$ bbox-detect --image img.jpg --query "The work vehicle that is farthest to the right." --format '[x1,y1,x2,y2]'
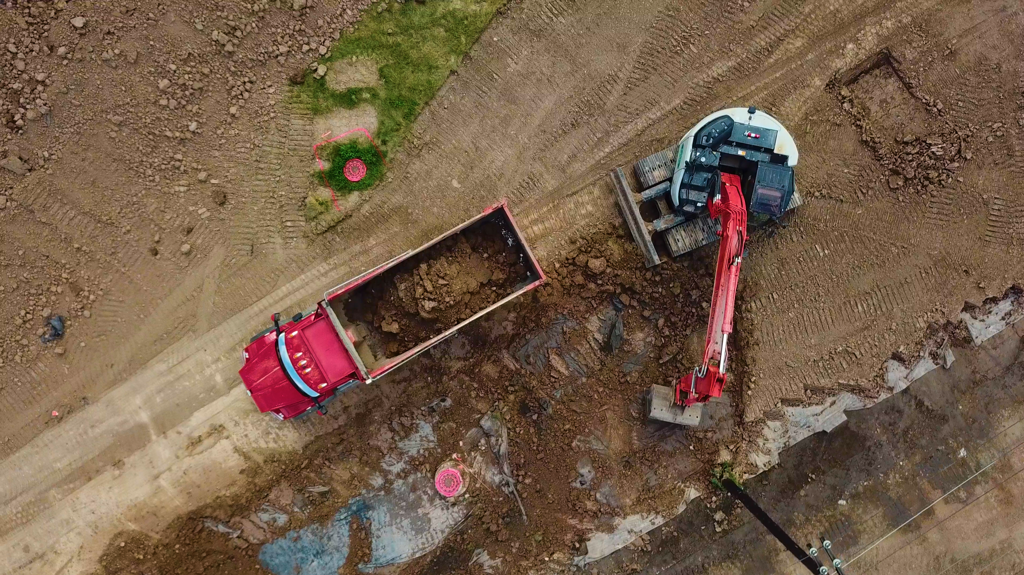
[609,106,808,426]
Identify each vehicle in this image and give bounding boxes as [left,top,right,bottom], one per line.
[609,106,808,426]
[239,197,552,425]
